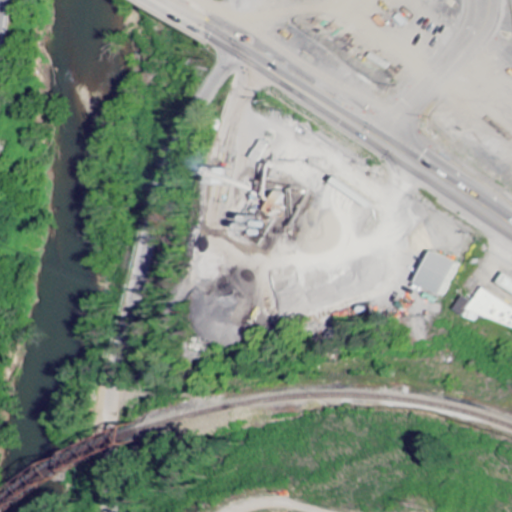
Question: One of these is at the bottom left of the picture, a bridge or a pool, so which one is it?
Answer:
bridge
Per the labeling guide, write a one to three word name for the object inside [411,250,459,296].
shed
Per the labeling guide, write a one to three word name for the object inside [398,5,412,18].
vehicle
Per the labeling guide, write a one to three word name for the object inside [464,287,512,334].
building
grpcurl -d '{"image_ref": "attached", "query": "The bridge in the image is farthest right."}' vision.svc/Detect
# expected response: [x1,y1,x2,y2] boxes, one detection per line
[128,0,212,42]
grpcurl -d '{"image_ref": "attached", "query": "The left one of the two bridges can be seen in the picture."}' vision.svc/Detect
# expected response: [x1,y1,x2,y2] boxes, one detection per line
[0,422,127,504]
